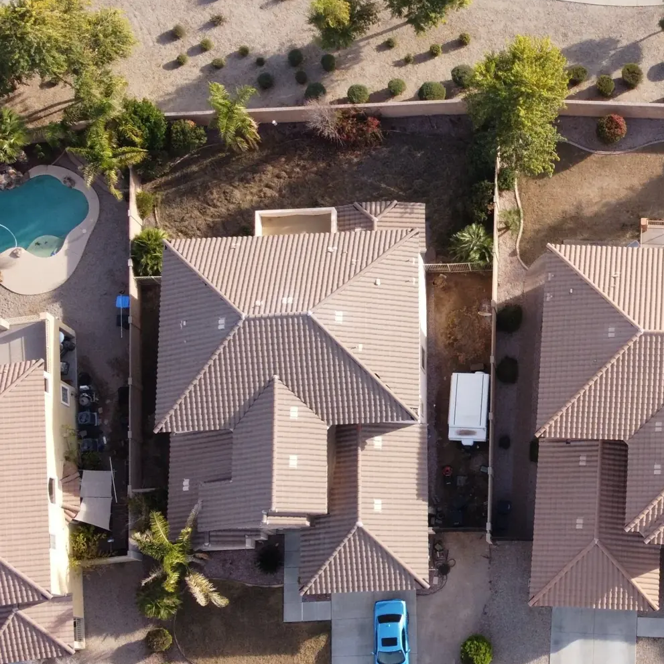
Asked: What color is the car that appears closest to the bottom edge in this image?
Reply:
blue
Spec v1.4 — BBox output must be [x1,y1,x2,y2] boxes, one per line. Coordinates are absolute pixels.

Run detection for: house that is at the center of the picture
[152,197,430,595]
